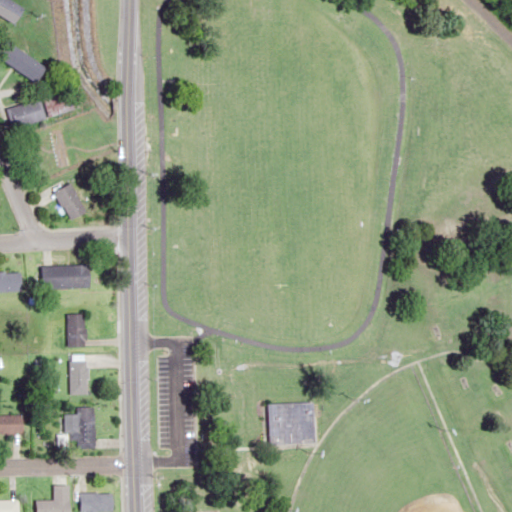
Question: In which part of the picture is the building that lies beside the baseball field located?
bottom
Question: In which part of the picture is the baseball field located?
bottom right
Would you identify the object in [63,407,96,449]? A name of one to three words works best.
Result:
house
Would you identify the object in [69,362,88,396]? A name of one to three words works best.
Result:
house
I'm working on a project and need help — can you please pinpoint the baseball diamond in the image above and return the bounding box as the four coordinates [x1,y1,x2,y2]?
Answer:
[292,364,480,512]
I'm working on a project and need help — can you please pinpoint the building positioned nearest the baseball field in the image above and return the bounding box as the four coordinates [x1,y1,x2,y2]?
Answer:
[266,402,315,446]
